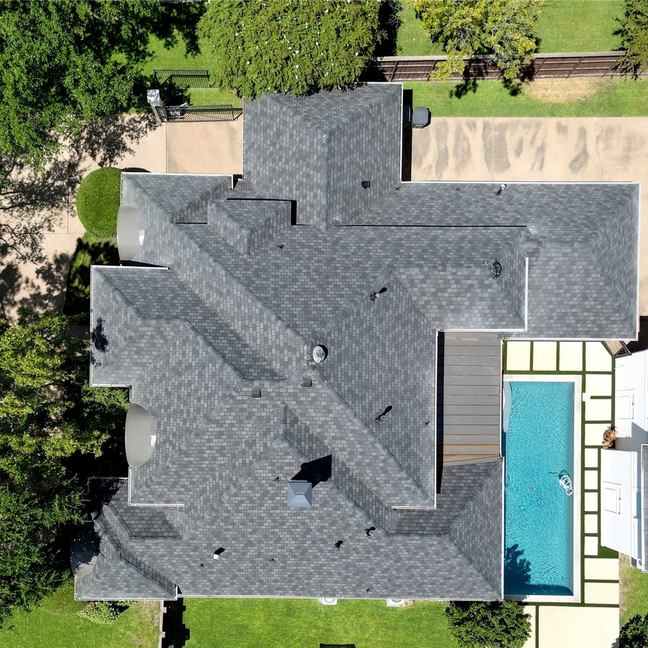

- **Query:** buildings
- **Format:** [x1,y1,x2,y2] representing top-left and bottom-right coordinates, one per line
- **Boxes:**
[67,82,641,601]
[603,352,648,575]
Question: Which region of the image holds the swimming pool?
bottom right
